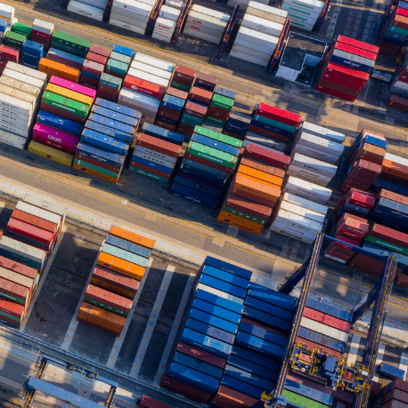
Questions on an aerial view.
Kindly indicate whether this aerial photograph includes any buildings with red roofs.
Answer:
No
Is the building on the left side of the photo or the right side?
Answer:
right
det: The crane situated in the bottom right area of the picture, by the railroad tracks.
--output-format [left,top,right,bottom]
[246,221,405,408]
